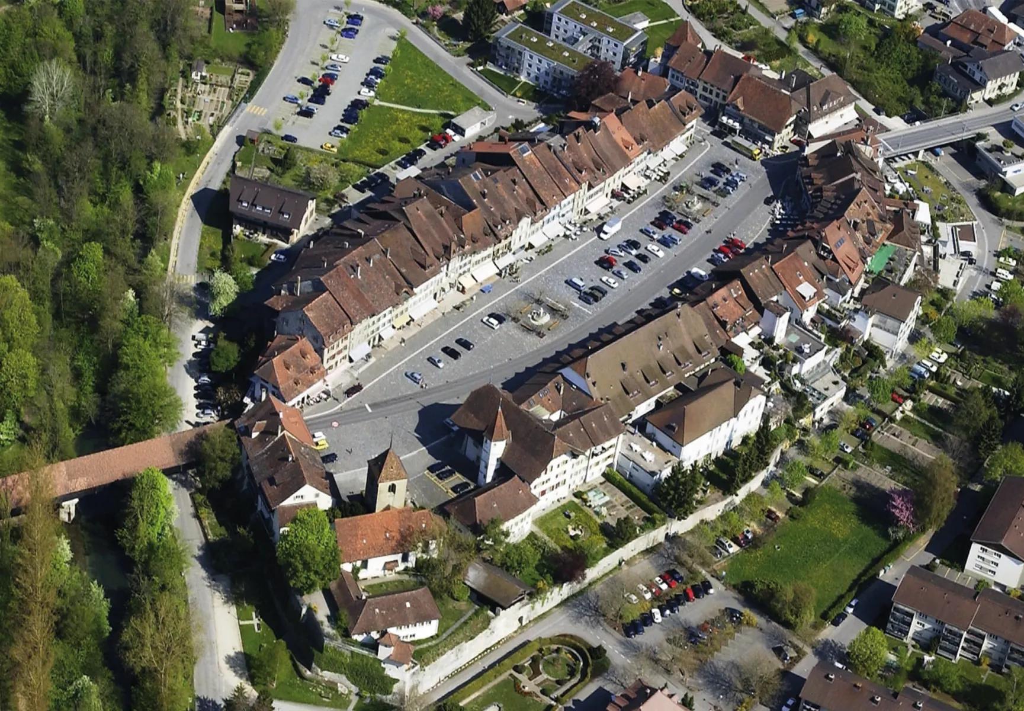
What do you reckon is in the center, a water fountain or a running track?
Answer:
water fountain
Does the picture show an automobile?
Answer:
Yes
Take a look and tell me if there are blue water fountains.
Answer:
No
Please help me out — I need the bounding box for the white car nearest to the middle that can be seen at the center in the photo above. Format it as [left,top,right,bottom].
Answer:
[481,316,500,329]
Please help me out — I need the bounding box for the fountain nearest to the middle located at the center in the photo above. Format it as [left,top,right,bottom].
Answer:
[522,302,551,327]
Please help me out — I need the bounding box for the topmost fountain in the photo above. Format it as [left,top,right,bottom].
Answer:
[675,190,702,214]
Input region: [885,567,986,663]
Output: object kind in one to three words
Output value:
house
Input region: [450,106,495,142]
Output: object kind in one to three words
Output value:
shed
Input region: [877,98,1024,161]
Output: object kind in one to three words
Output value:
bridge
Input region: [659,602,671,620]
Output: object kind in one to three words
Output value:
vehicle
